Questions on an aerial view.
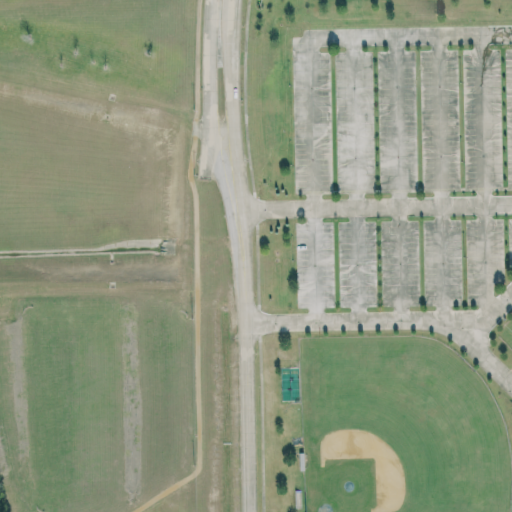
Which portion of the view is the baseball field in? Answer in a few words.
bottom right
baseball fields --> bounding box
[300,336,511,512]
